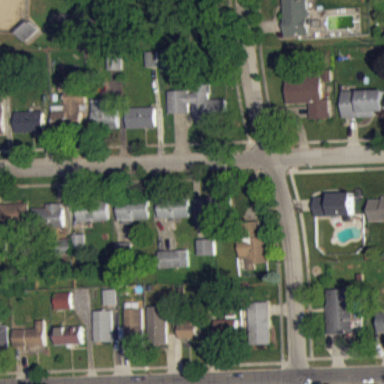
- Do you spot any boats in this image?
No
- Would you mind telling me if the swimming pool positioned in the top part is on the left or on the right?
right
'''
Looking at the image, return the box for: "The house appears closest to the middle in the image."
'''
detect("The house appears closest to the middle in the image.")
[154,200,190,224]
